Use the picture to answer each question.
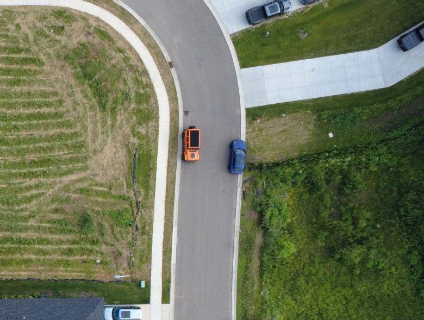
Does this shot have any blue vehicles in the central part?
Yes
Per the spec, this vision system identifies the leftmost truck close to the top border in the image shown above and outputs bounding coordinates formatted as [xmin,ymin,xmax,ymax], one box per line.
[243,1,287,26]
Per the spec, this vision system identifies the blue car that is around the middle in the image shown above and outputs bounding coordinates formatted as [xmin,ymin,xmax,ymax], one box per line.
[225,141,246,174]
